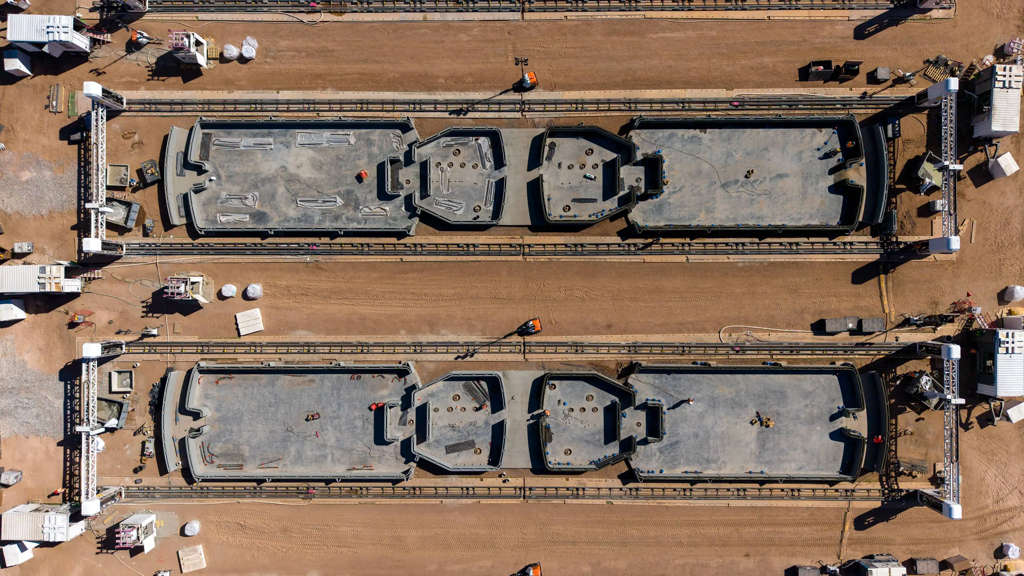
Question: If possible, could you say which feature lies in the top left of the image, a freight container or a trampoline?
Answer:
freight container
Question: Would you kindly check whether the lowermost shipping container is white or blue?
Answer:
white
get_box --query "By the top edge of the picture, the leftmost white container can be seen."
[8,14,89,59]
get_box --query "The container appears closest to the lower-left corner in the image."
[3,505,85,541]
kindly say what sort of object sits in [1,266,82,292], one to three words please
shipping container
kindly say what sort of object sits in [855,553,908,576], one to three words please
truck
